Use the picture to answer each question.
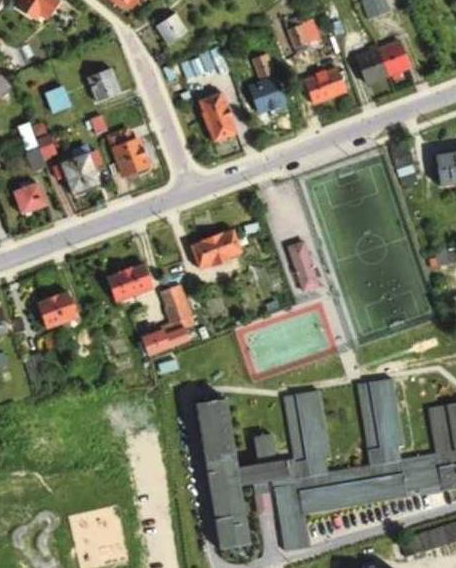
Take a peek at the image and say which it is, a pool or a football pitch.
football pitch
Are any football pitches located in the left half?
No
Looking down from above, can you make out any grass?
Yes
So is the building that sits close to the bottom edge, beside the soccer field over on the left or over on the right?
right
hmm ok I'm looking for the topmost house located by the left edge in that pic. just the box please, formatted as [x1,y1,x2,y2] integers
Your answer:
[17,0,60,25]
